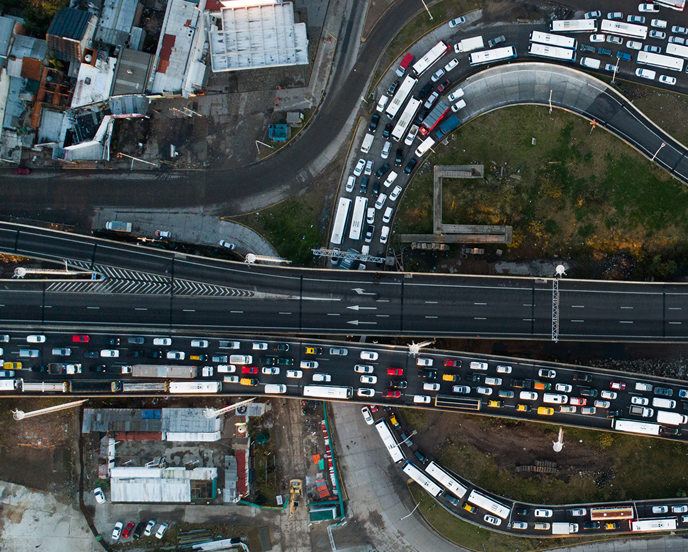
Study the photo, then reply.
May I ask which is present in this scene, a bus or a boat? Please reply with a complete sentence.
Visible in the photo is a bus.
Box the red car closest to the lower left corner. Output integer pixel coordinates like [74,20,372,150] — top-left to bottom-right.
[123,520,135,539]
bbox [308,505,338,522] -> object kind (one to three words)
shed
